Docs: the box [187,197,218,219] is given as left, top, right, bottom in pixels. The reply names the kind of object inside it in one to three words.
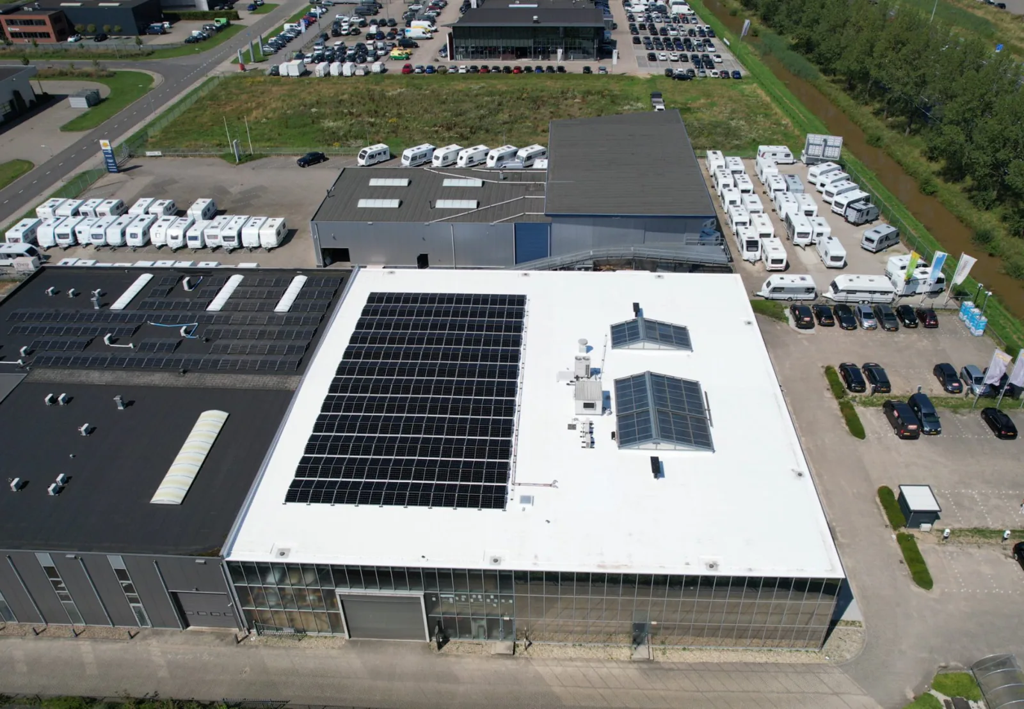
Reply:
camper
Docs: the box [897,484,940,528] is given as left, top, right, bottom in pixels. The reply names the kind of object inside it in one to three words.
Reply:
shed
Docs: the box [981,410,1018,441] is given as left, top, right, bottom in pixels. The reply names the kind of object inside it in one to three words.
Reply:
car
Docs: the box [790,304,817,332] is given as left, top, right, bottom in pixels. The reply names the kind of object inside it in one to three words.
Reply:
vehicle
